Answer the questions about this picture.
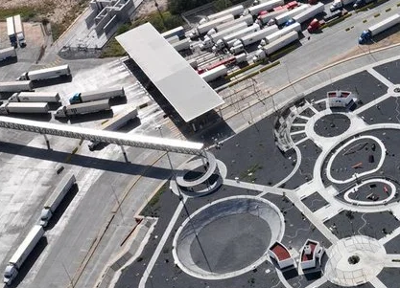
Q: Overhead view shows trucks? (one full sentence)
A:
Yes, there is a truck in the image.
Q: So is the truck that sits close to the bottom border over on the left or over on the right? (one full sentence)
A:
It is on the left.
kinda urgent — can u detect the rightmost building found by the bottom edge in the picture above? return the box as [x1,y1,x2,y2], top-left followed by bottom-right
[299,237,319,274]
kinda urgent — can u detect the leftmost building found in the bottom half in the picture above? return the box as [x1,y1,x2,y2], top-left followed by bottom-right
[267,242,291,274]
